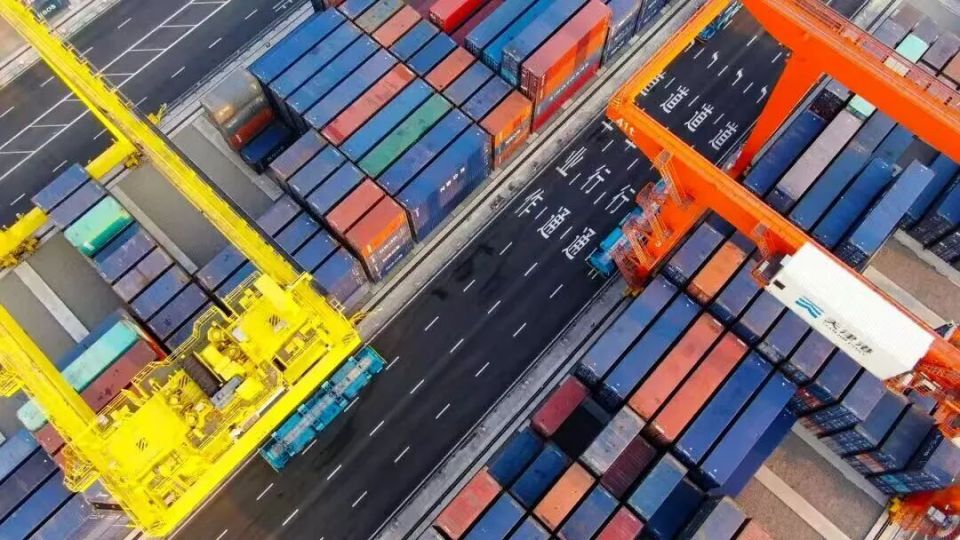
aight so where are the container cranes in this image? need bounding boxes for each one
[0,0,373,540]
[599,0,960,540]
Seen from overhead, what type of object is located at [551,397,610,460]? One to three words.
shipping container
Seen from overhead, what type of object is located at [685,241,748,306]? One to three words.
shipping container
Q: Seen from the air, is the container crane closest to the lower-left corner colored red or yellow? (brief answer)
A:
yellow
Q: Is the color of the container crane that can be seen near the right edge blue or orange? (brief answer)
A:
orange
